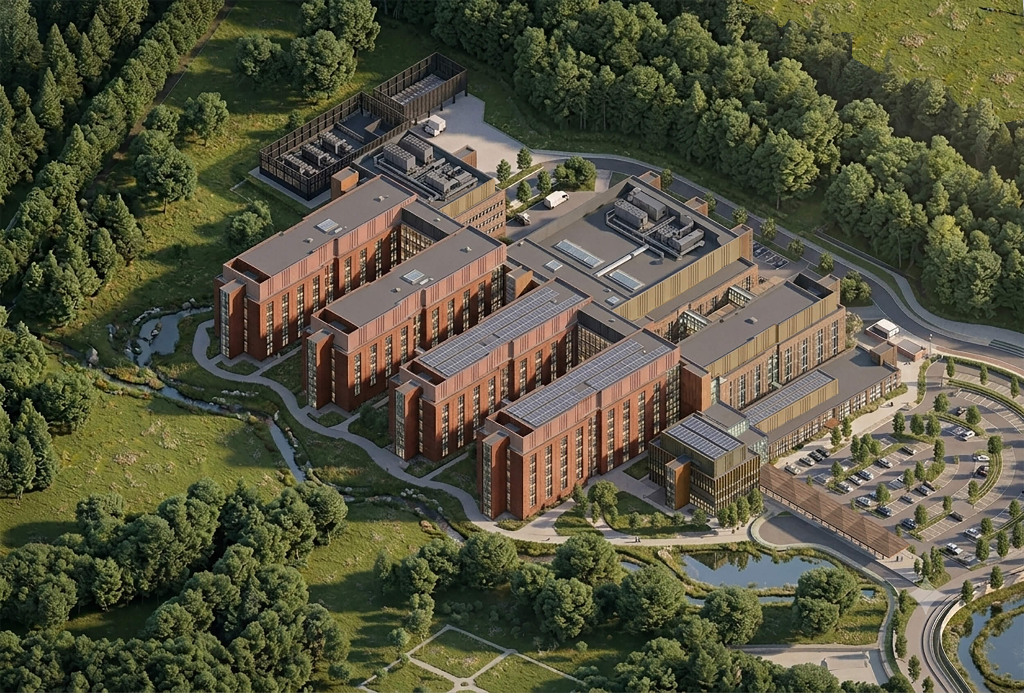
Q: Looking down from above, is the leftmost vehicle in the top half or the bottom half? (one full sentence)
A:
The top half of the photo is where the leftmost vehicle is.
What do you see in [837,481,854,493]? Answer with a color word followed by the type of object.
white vehicle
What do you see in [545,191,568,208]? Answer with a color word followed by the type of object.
white vehicle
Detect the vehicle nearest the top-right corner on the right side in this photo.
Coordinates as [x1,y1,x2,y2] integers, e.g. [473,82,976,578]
[873,320,897,340]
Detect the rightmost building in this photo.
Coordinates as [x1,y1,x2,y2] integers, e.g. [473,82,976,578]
[896,339,926,365]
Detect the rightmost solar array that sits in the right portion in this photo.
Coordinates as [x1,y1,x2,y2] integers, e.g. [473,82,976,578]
[749,375,832,426]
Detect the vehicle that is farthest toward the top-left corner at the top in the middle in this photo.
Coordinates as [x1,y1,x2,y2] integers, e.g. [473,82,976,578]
[425,115,445,137]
